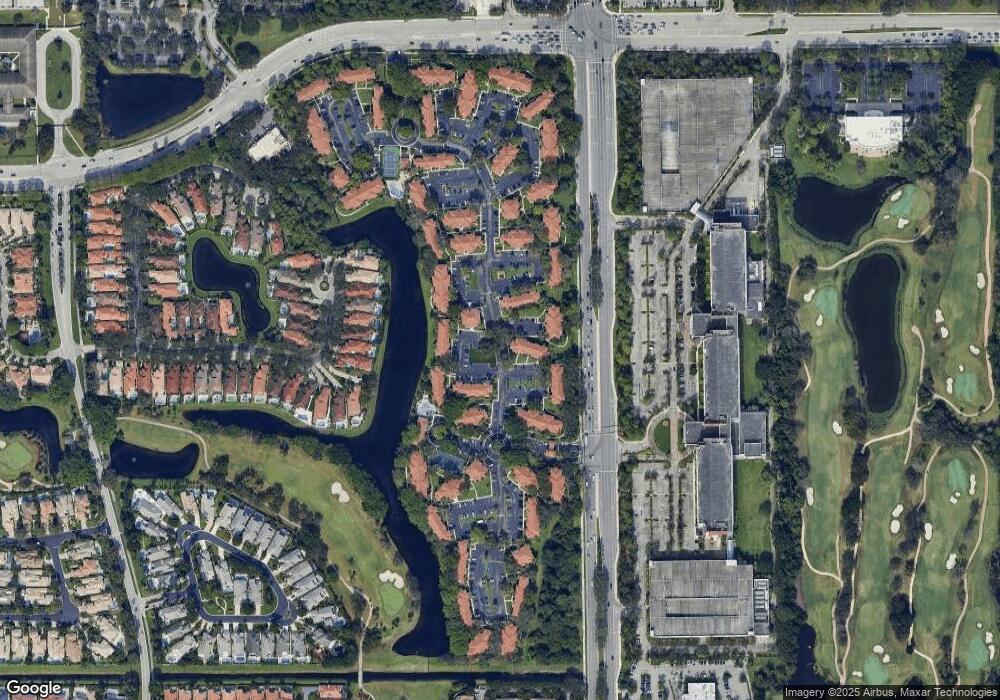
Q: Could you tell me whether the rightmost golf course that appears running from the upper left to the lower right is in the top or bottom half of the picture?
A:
bottom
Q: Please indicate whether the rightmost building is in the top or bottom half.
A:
top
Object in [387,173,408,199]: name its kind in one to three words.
swimming pool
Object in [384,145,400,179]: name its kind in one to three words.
tennis court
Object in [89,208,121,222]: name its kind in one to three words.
house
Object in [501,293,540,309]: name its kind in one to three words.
building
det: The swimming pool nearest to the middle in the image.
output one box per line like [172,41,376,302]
[417,395,436,415]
